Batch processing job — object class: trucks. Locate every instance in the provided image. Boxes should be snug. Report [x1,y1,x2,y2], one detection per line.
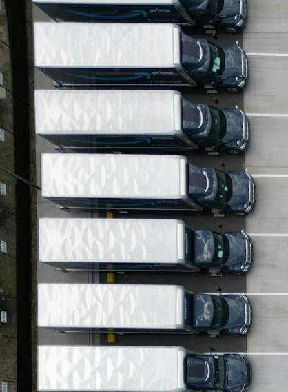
[34,90,250,155]
[37,345,253,392]
[33,22,248,92]
[31,0,247,32]
[40,153,255,214]
[37,217,253,274]
[36,282,252,336]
